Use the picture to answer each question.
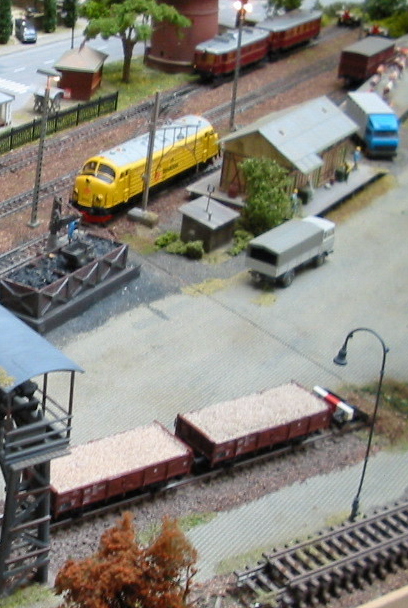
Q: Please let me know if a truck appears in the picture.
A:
Yes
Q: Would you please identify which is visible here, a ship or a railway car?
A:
railway car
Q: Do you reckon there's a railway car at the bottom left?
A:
Yes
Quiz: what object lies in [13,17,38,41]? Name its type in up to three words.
vehicle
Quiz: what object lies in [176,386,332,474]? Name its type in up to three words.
rail car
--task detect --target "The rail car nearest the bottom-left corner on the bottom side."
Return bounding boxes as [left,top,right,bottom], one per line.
[20,427,192,523]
